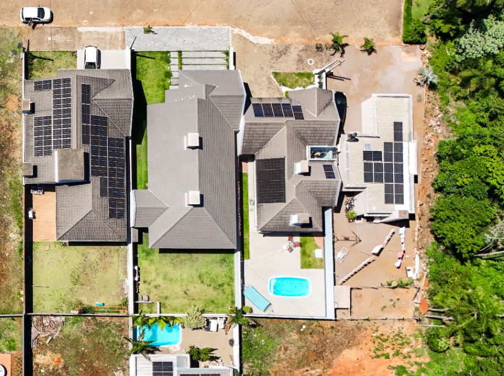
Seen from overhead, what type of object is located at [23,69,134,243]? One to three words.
house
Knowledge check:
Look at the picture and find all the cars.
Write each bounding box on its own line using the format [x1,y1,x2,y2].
[82,40,100,69]
[334,94,349,135]
[20,6,51,30]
